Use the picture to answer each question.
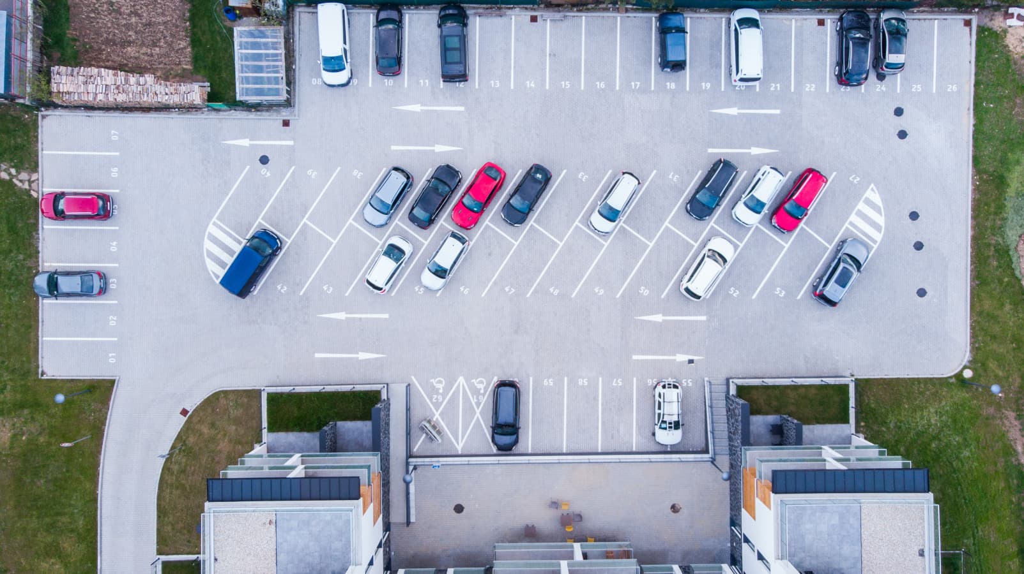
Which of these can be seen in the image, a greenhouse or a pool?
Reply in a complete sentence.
The one in the frame is a greenhouse.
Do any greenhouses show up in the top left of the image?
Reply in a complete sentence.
Yes, the scene does show a greenhouse in the top left of the image.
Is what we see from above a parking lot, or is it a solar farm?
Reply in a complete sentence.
This image shows a parking lot.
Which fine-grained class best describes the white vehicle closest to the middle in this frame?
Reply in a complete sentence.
The white vehicle closest to the middle in the image is a car.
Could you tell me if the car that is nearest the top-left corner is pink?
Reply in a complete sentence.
Yes, pink is the color of the car that is nearest the top-left corner.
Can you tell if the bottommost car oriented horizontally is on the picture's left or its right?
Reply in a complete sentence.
The bottommost car oriented horizontally sits on the left side.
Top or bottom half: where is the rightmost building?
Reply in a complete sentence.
The bottom half of the photo is where the rightmost building is.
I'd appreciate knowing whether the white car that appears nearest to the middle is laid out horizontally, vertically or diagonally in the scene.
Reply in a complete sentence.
I'd say the white car that appears nearest to the middle is aligned diagonally in the picture.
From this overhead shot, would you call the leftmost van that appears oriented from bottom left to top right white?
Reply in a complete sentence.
No, the color of the leftmost van that appears oriented from bottom left to top right is blue.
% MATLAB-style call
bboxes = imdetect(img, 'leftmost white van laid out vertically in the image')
[314,1,352,85]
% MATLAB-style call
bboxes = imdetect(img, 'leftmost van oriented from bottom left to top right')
[214,227,283,301]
